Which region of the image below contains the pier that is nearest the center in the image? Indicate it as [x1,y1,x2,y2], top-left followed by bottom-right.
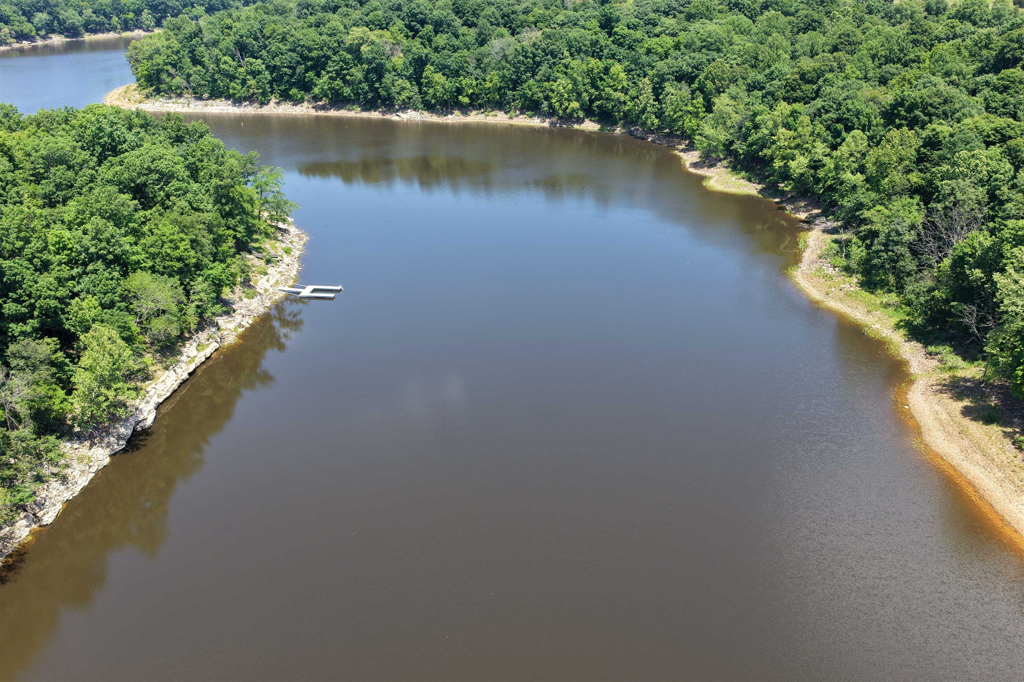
[299,284,340,299]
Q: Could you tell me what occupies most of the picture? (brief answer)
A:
water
